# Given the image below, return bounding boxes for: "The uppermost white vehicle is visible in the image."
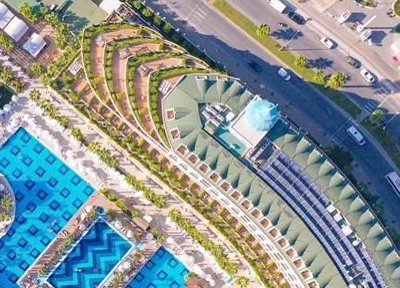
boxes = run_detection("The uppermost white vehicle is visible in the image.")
[267,0,290,13]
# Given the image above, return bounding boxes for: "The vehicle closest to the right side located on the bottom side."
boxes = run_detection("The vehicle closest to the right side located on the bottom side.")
[386,171,400,197]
